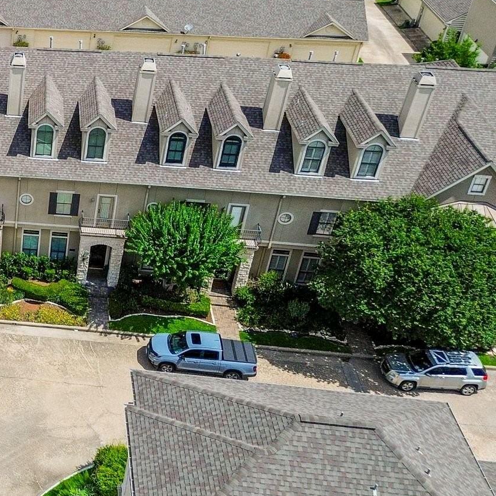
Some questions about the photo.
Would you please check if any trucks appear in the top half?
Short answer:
No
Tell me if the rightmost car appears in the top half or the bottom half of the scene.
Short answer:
bottom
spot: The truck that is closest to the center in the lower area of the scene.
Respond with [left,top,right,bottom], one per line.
[140,324,260,377]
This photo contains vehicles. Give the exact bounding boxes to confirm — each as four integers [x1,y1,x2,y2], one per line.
[140,324,260,377]
[375,343,496,396]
